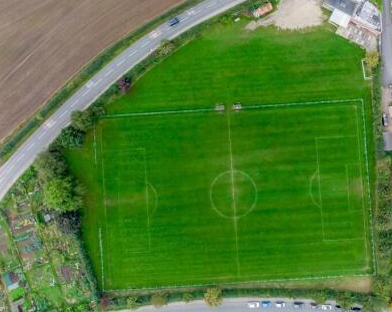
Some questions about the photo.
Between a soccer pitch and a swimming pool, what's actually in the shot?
soccer pitch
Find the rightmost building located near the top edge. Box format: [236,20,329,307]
[322,0,382,35]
